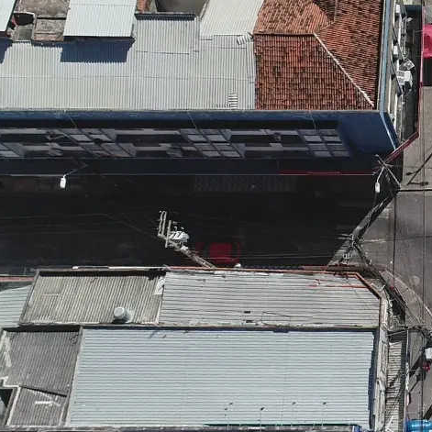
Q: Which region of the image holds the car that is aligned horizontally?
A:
center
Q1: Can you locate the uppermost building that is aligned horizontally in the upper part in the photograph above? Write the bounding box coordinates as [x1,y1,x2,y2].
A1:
[0,0,423,173]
